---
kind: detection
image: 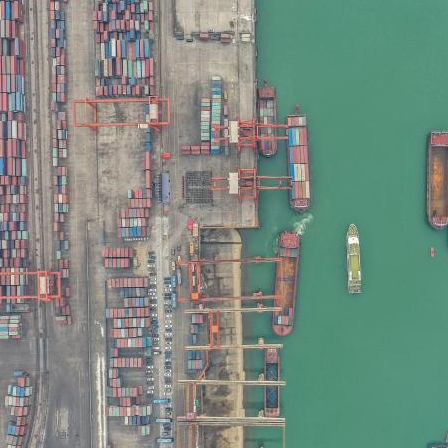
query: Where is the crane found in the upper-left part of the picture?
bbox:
[74,98,170,136]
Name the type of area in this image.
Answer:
port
